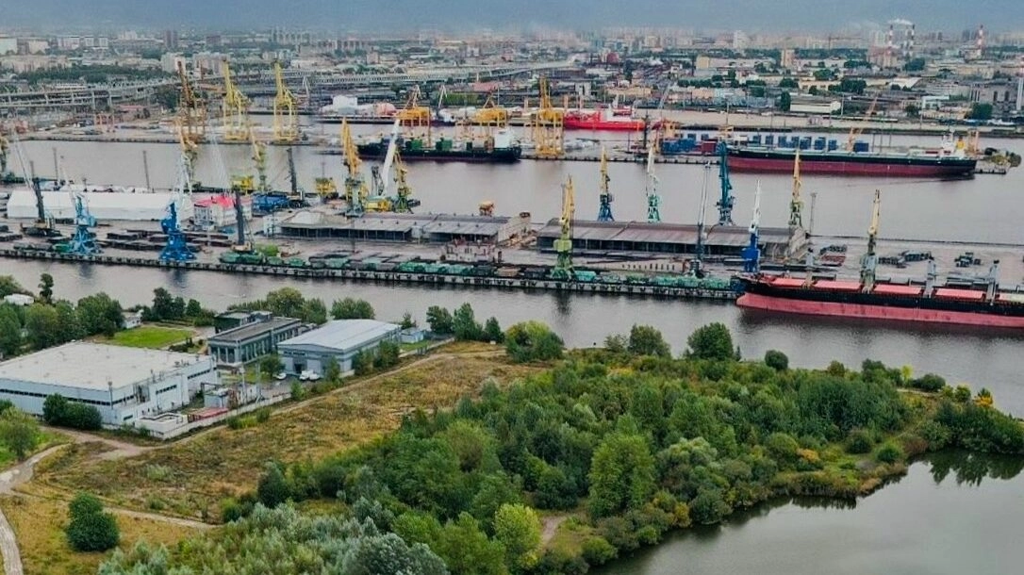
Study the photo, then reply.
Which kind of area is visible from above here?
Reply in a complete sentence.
This looks like a port.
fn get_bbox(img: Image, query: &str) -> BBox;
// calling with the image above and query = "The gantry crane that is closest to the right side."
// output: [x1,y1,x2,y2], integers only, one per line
[963,128,989,162]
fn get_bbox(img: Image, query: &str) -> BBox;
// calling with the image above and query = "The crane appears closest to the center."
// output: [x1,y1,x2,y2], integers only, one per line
[550,174,577,279]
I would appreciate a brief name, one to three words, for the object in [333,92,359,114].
building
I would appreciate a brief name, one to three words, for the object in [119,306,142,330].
house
